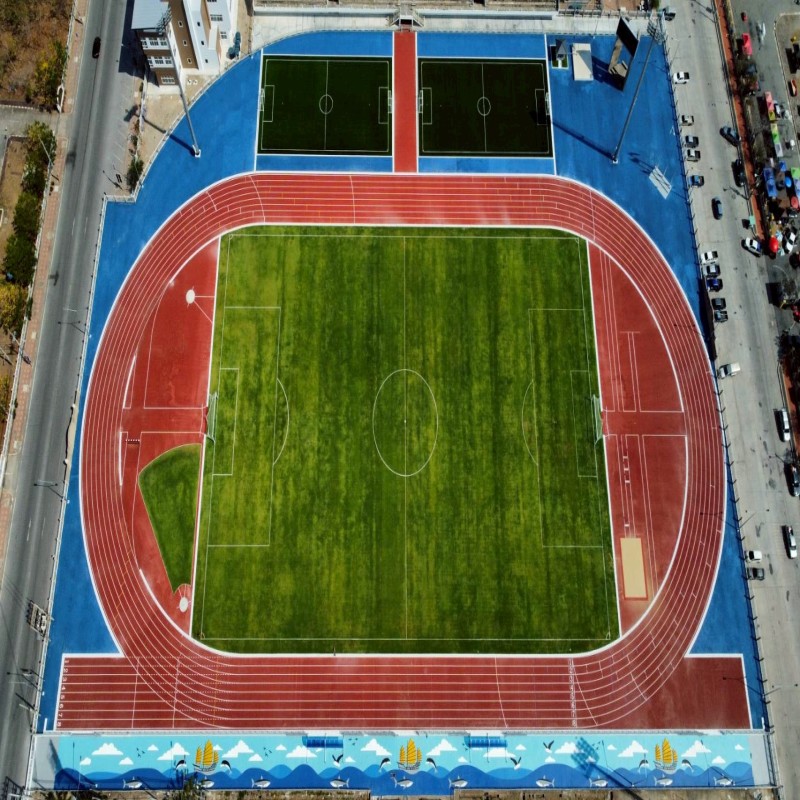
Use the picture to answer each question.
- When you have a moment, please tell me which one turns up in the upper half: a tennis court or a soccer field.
soccer field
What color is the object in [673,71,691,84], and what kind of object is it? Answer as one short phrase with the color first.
white vehicle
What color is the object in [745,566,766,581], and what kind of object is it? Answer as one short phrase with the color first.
gray car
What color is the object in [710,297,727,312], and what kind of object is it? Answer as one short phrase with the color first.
black car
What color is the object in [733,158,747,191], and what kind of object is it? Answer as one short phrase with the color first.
black car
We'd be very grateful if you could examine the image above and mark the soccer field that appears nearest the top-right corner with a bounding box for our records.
[418,57,553,157]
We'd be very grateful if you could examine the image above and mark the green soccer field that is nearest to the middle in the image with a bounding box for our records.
[190,225,620,652]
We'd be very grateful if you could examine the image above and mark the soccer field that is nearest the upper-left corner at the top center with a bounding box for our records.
[256,55,392,155]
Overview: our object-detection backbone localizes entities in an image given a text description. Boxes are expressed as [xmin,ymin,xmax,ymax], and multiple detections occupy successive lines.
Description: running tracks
[57,173,750,730]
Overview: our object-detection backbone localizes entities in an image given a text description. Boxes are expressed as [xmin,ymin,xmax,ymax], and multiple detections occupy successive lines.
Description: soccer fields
[190,225,620,652]
[256,55,392,155]
[418,57,553,157]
